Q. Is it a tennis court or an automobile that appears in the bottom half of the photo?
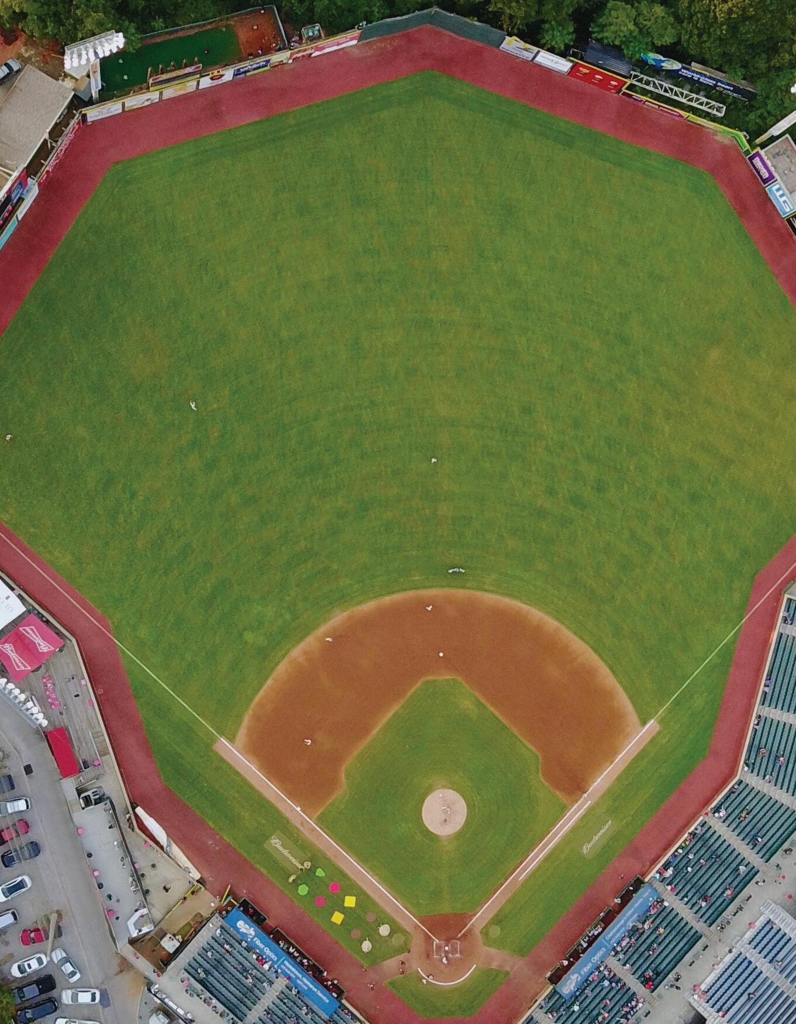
automobile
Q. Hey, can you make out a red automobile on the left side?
Yes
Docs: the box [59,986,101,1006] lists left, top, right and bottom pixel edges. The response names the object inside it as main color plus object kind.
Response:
white car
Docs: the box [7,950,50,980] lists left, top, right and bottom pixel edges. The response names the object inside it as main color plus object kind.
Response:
white car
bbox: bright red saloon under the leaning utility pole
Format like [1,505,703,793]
[15,924,56,946]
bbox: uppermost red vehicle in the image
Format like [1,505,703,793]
[0,818,31,845]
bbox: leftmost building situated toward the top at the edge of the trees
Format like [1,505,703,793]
[0,63,76,183]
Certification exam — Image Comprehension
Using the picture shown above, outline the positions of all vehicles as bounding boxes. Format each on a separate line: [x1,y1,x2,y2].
[50,945,81,985]
[0,794,33,817]
[0,872,37,904]
[15,992,61,1024]
[0,904,23,930]
[10,970,60,1008]
[15,924,56,946]
[74,783,110,809]
[0,818,31,845]
[0,773,18,793]
[59,986,101,1006]
[0,839,43,871]
[56,1015,100,1024]
[7,950,50,980]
